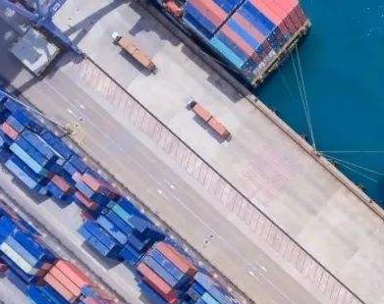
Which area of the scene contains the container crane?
top left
